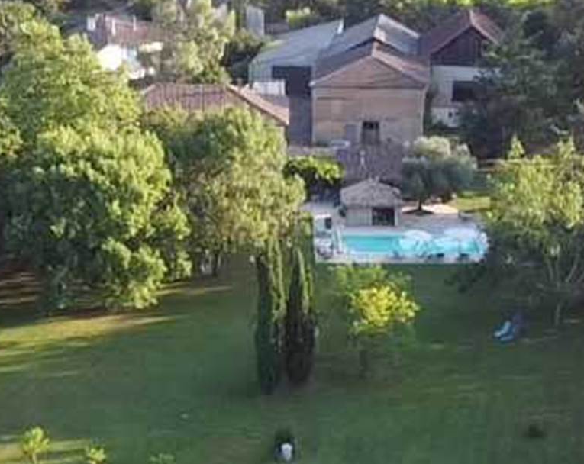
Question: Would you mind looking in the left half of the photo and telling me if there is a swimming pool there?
No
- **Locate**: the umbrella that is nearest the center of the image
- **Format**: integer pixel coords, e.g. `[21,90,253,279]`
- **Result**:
[397,227,436,255]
